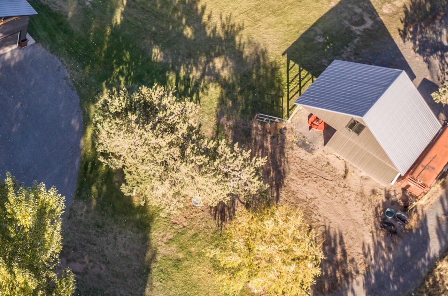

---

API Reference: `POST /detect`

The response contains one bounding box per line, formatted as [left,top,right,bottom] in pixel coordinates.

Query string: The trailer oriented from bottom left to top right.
[394,126,448,206]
